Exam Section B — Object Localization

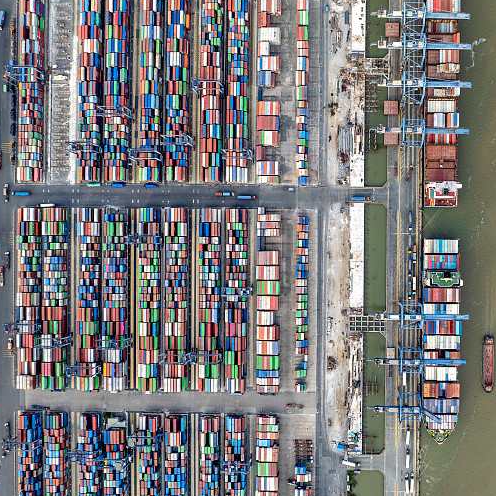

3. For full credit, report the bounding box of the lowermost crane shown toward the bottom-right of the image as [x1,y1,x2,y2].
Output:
[369,381,437,426]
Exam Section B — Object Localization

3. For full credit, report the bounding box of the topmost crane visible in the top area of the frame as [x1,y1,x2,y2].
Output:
[373,2,471,42]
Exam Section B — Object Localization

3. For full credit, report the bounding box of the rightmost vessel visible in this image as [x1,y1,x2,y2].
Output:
[481,334,494,392]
